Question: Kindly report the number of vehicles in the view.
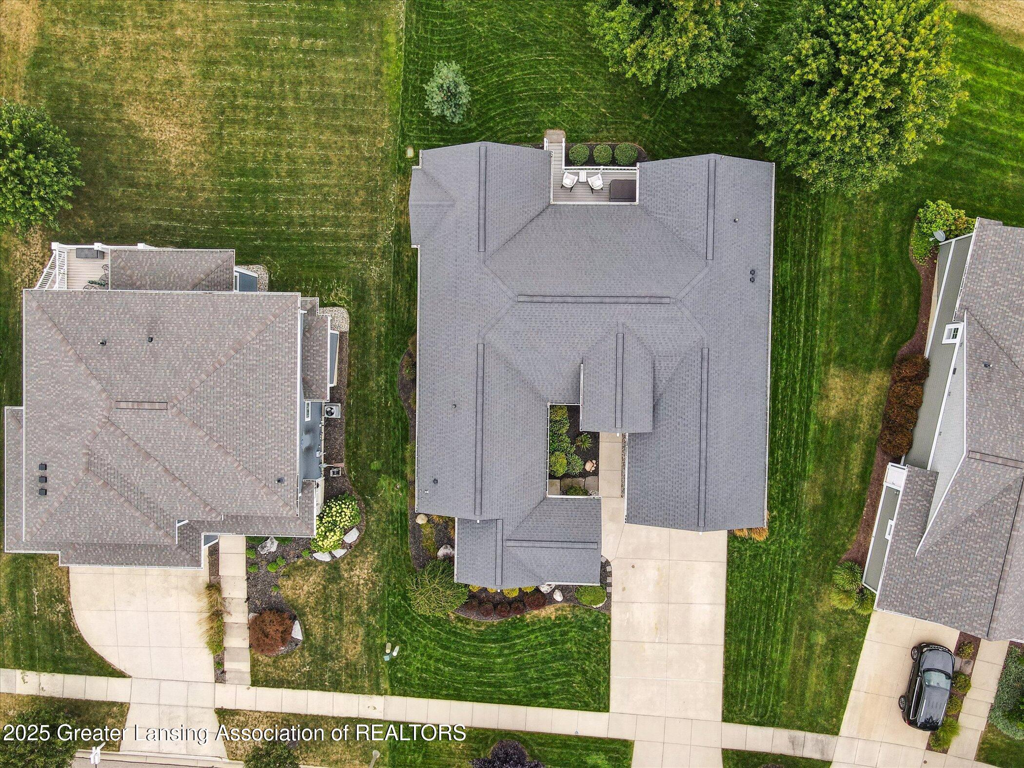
1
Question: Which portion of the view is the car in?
bottom right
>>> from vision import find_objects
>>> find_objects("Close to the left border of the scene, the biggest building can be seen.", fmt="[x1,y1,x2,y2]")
[3,248,338,569]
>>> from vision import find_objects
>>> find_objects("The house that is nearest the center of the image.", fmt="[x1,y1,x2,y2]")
[410,141,775,592]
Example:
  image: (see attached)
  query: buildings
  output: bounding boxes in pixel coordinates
[3,248,338,569]
[861,218,1024,645]
[410,141,775,592]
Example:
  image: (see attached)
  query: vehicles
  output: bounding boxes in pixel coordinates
[897,639,955,733]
